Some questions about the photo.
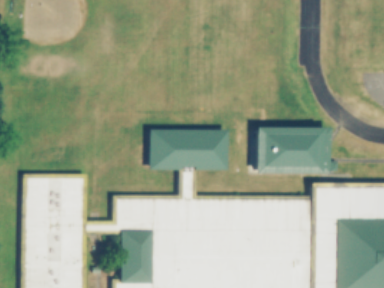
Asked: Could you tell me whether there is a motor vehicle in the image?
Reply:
No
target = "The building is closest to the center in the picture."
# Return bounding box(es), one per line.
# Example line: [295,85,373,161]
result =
[149,129,229,171]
